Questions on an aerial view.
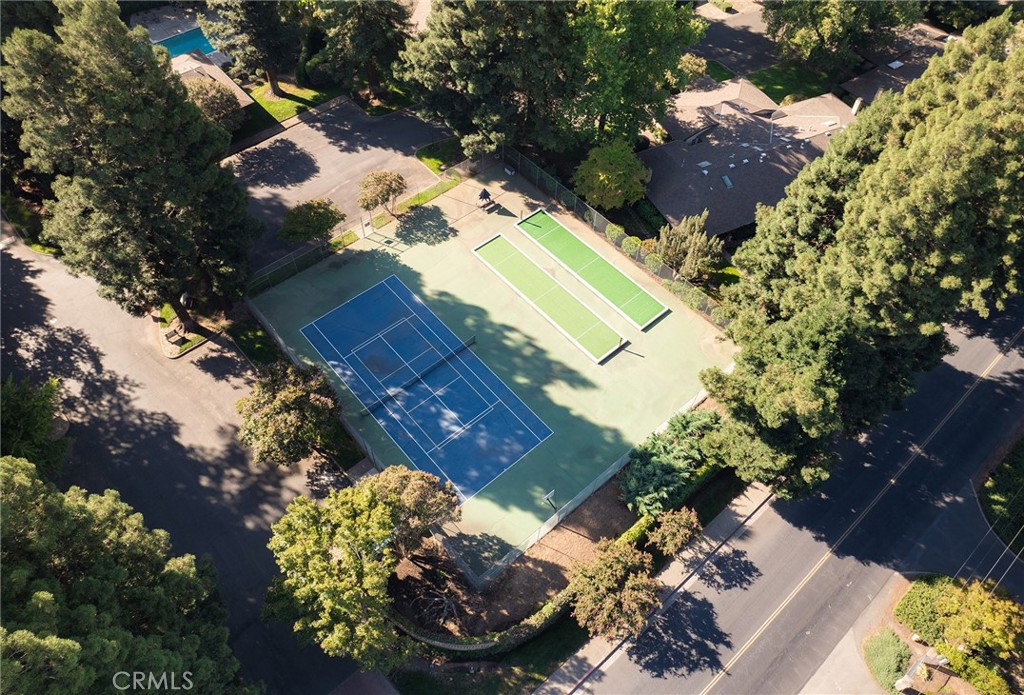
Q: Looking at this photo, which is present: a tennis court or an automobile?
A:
tennis court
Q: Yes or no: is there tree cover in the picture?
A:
Yes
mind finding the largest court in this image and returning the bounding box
[242,165,730,587]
